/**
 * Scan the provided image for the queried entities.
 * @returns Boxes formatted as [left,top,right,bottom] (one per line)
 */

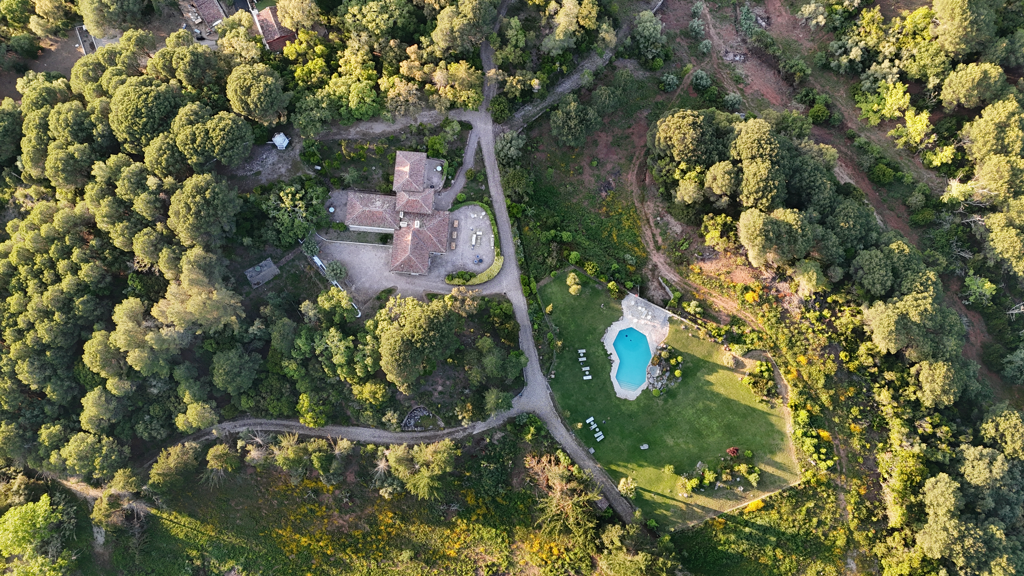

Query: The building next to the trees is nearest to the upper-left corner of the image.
[195,0,229,34]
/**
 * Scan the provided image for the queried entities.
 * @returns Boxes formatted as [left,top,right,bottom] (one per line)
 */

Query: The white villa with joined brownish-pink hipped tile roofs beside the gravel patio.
[345,150,450,276]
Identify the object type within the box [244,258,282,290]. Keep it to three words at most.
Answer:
shed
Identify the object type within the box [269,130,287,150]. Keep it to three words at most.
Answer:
gazebo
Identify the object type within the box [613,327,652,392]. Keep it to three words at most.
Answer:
swimming pool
